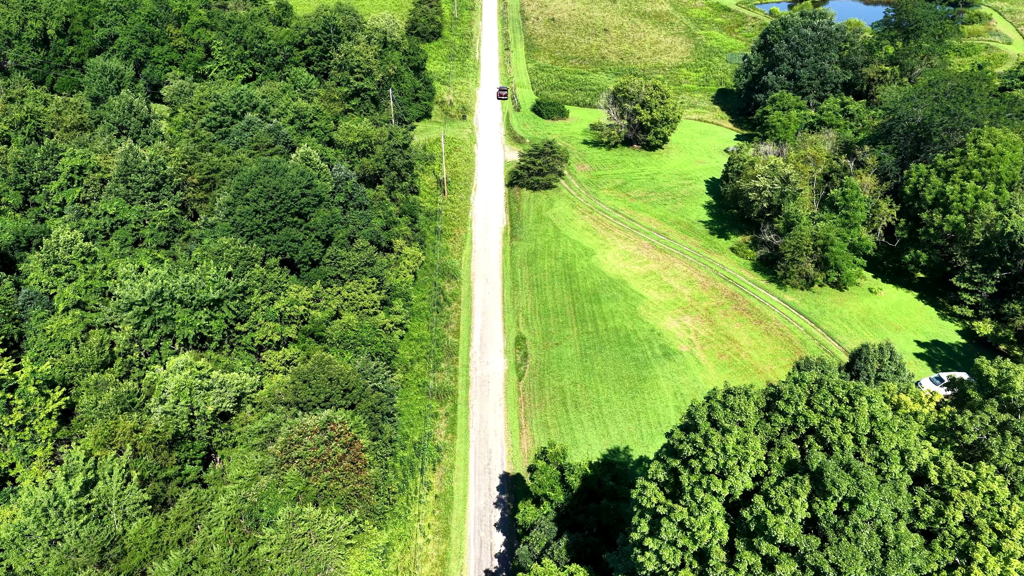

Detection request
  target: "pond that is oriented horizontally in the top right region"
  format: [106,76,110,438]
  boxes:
[750,0,975,36]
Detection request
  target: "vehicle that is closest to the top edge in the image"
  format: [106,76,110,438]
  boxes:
[497,85,509,100]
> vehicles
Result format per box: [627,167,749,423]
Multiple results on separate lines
[921,371,978,397]
[497,85,509,100]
